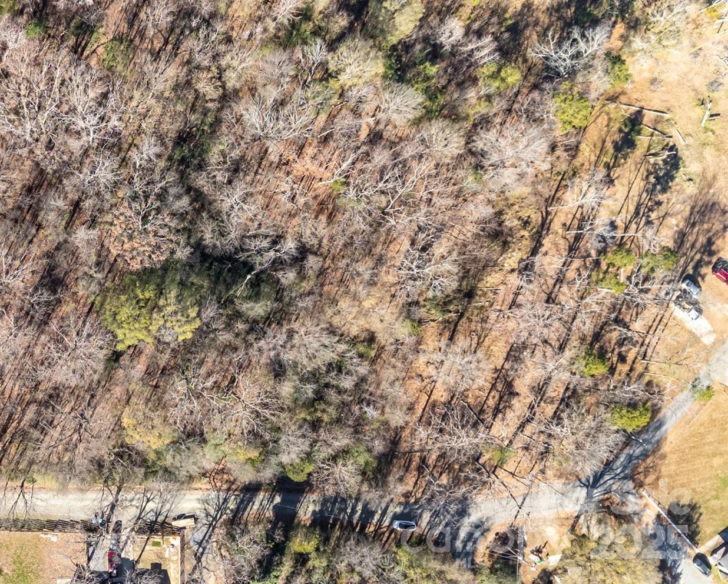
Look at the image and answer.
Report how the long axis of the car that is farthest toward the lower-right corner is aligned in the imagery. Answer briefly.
on a diagonal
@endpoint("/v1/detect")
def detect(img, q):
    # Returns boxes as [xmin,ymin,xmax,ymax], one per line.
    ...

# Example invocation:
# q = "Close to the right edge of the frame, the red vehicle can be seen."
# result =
[713,263,728,283]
